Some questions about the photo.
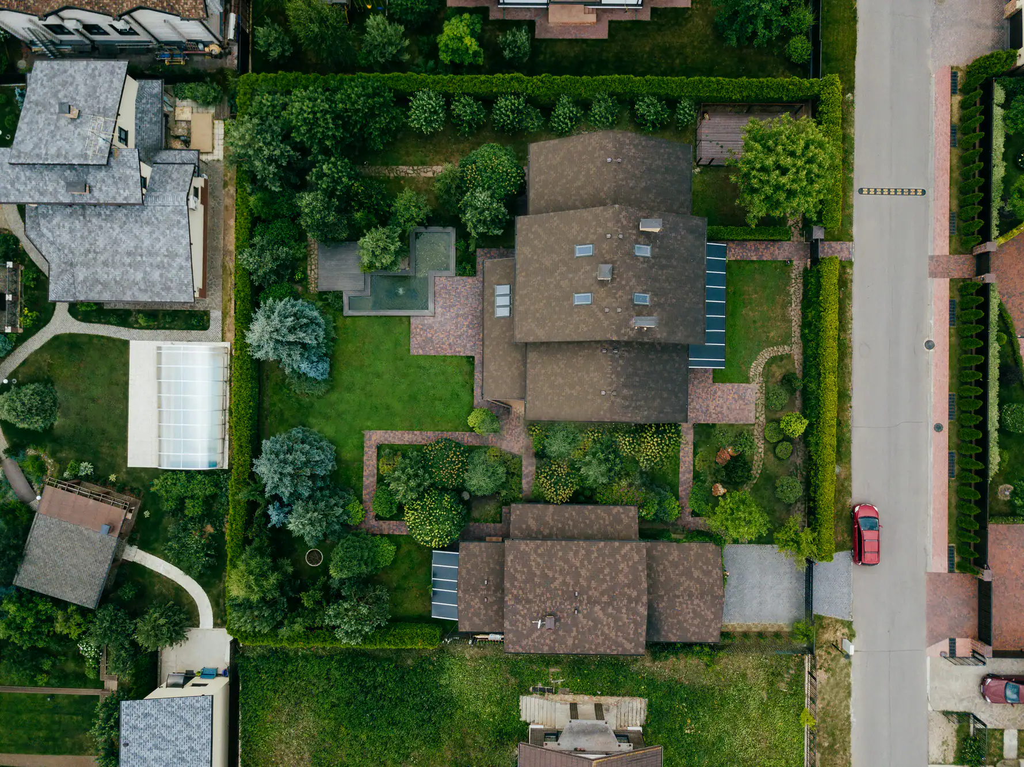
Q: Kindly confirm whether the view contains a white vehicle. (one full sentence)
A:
No, the frame has no white vehicle in it.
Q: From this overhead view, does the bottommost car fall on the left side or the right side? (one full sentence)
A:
You can find the bottommost car on the right side of the picture.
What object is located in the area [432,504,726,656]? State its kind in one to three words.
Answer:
house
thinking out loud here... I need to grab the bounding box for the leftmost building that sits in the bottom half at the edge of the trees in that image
[12,474,150,611]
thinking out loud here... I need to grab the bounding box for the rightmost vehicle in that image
[980,674,1024,708]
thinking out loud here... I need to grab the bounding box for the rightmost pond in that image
[343,226,455,316]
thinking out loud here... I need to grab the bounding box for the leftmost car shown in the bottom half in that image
[851,504,885,566]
